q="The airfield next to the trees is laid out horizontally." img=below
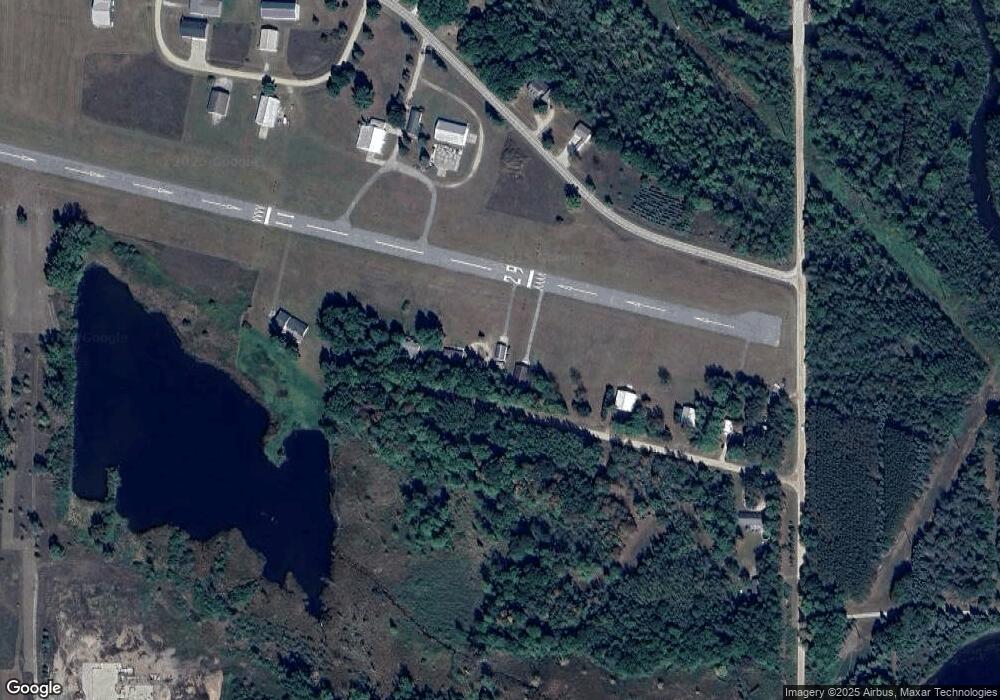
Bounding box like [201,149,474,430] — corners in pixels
[0,144,782,348]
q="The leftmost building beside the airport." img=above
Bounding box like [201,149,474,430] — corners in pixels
[356,118,387,154]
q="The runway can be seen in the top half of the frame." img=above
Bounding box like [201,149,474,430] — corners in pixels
[0,144,782,348]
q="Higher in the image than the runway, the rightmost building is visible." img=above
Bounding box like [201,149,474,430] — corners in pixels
[566,122,593,144]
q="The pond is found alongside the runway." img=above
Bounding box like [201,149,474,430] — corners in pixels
[74,263,337,611]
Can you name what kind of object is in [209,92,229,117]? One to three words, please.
house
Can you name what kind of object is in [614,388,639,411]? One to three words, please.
barn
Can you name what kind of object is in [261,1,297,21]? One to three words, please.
house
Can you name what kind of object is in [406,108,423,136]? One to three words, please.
shed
